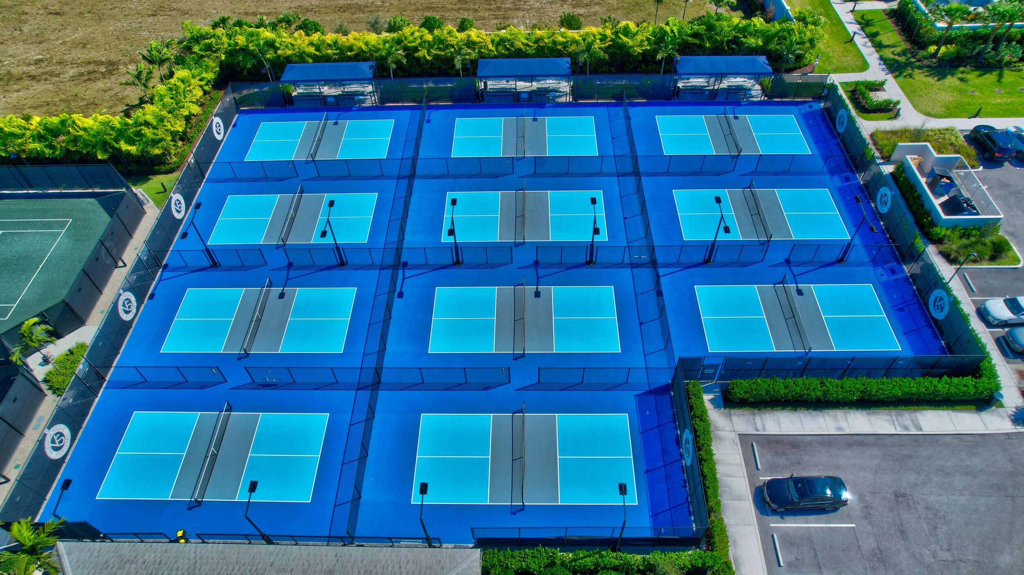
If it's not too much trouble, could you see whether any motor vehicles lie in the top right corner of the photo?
Yes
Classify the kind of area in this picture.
sports ground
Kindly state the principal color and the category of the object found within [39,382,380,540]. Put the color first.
blue sports court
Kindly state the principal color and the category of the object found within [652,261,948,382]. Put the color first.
blue sports court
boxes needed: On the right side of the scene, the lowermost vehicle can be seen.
[761,472,852,513]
